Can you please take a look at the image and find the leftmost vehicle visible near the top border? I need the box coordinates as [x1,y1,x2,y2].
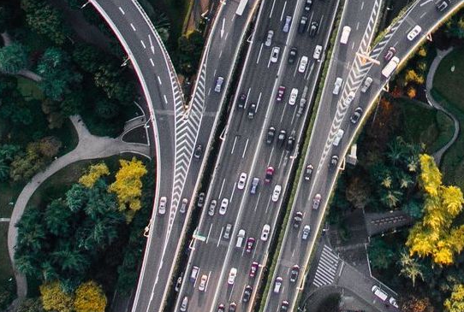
[234,0,250,18]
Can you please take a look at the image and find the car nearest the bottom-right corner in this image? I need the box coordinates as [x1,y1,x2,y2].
[387,294,401,311]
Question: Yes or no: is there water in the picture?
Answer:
No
